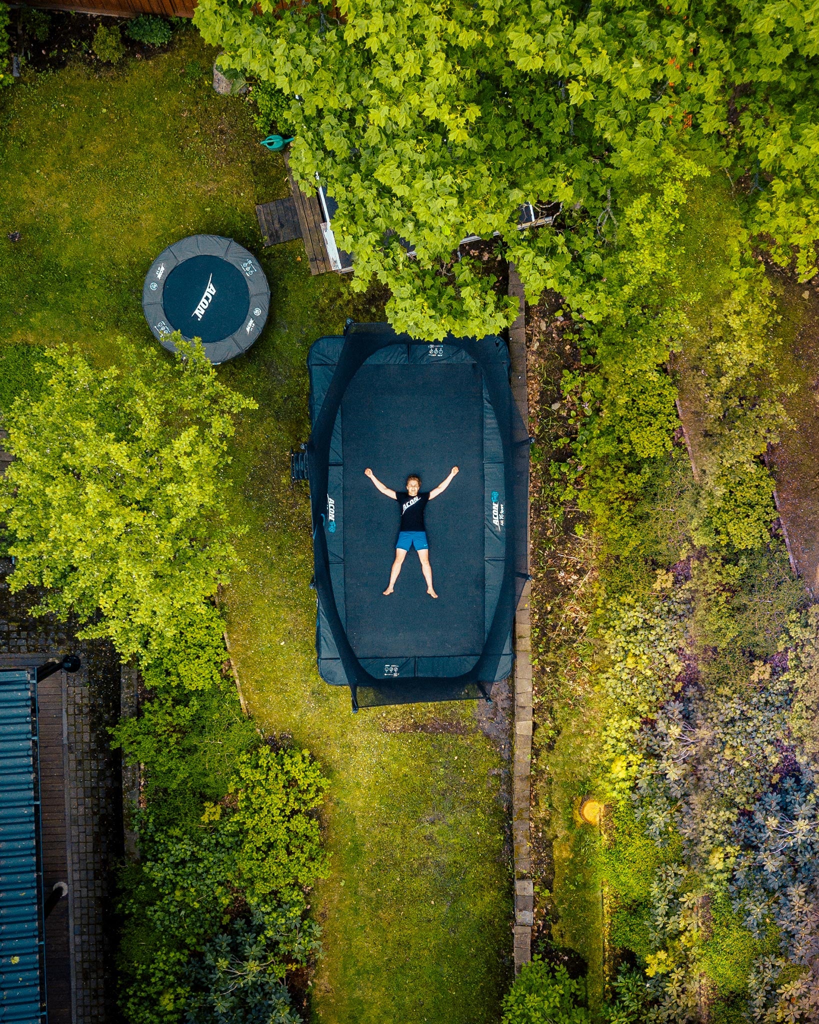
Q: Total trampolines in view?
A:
2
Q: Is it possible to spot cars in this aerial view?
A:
No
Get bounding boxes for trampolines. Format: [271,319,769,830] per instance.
[300,316,536,712]
[142,236,271,365]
